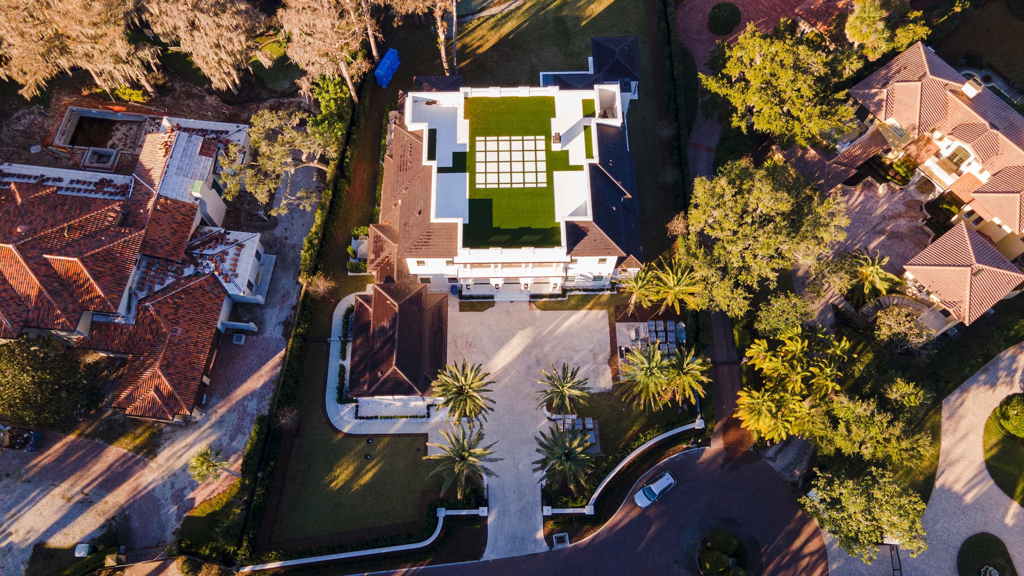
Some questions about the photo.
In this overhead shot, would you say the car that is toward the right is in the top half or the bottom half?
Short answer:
bottom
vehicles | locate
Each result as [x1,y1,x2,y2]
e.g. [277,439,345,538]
[73,544,104,558]
[633,467,681,511]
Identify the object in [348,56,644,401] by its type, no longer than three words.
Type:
house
